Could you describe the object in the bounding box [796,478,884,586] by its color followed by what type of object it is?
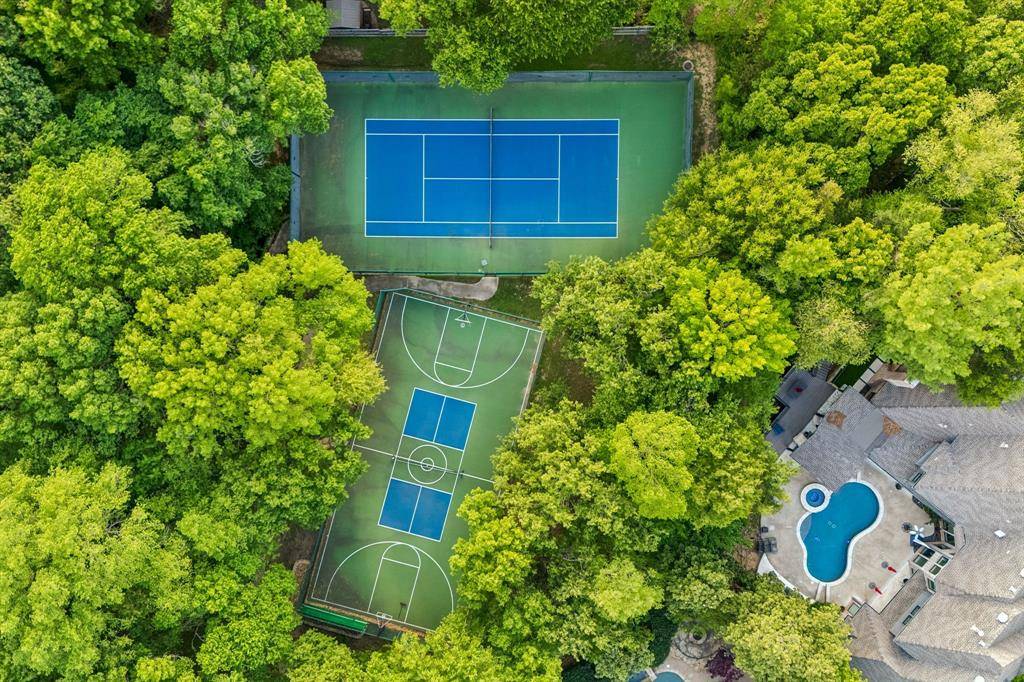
blue swimming pool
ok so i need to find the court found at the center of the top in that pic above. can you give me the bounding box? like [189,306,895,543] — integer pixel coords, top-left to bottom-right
[300,83,686,274]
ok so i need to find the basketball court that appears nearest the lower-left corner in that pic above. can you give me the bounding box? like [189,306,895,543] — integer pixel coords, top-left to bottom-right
[305,287,549,636]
